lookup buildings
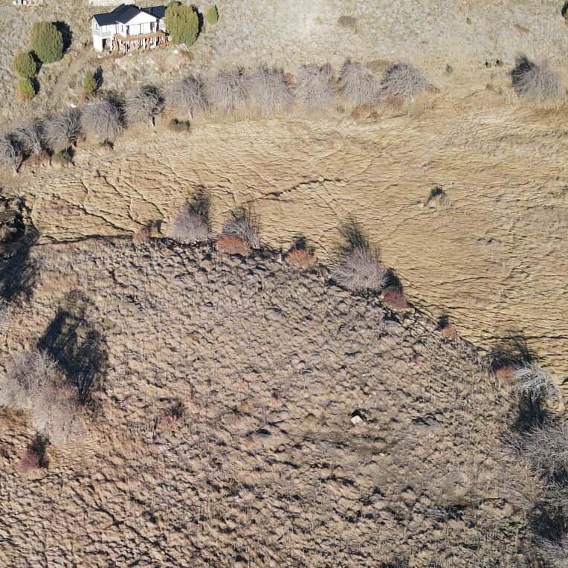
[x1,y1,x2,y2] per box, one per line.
[87,1,187,59]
